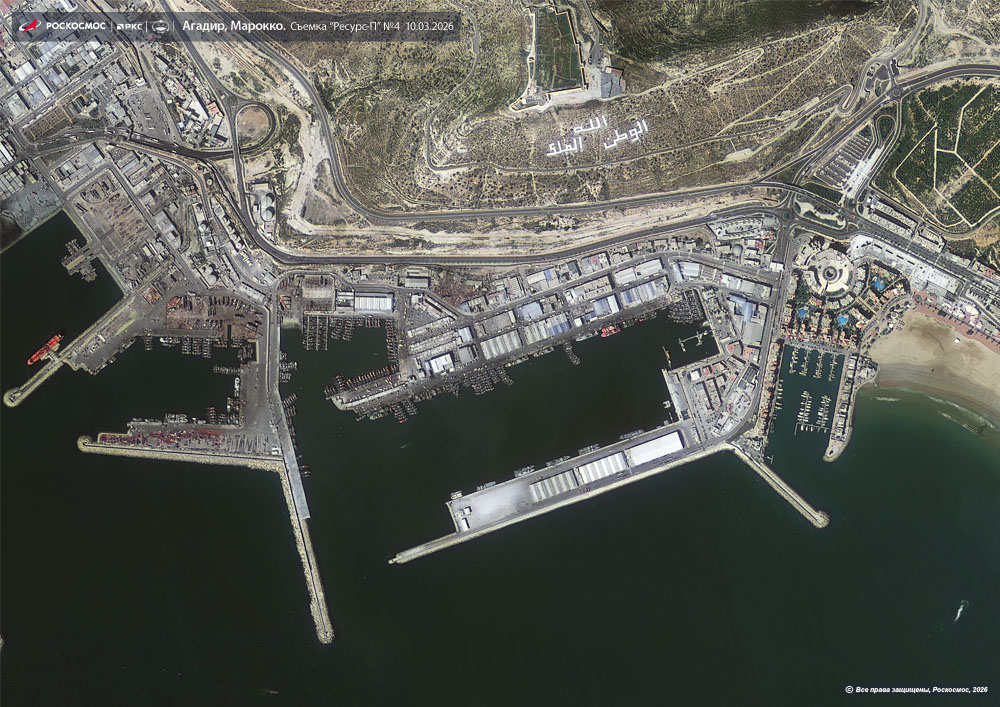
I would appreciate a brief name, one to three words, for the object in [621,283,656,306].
building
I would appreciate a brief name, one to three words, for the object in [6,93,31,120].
building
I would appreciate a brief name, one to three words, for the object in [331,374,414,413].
pier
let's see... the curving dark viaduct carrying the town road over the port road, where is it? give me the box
[111,132,251,158]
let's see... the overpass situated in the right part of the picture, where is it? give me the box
[736,181,867,225]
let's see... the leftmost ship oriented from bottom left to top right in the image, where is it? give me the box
[26,333,64,364]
